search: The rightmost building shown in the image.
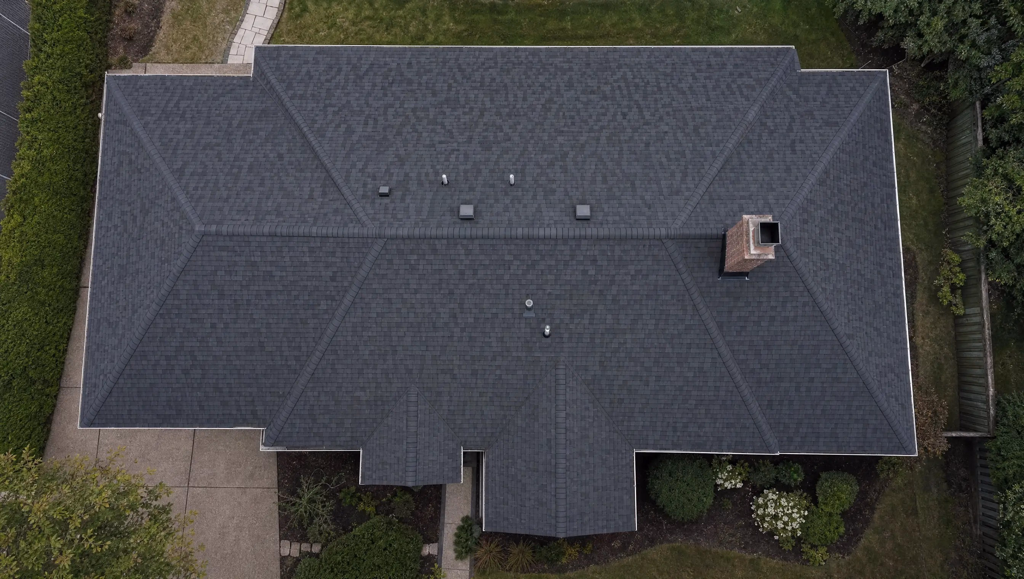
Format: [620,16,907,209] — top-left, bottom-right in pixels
[79,46,917,540]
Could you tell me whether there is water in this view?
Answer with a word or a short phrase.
No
